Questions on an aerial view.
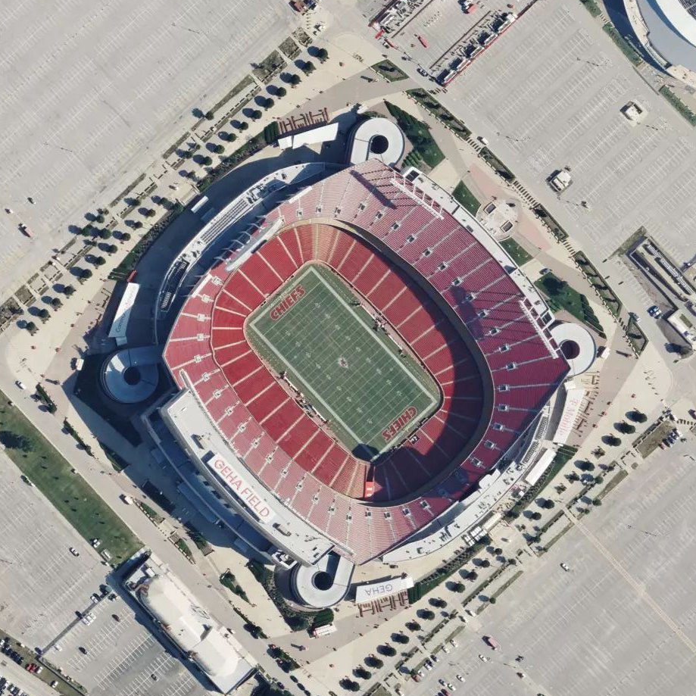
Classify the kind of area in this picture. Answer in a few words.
sports ground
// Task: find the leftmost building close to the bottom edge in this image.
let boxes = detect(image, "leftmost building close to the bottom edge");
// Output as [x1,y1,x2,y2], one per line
[121,555,260,692]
